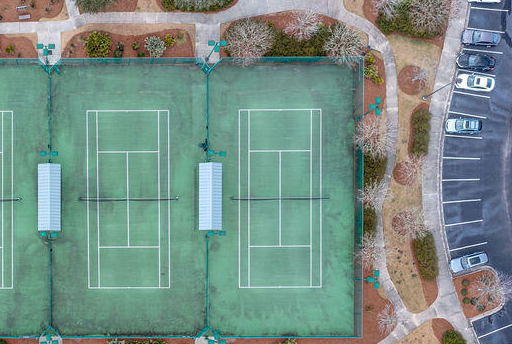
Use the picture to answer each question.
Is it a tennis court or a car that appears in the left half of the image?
tennis court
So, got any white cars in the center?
No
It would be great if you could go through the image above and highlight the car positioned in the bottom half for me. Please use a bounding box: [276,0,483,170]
[450,252,489,272]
